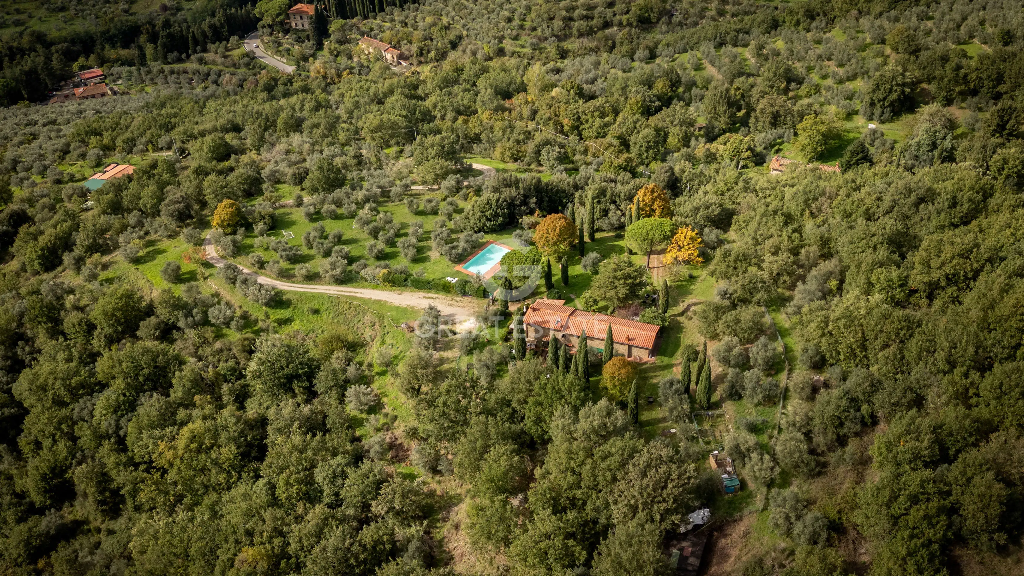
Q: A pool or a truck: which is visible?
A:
pool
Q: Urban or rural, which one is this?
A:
rural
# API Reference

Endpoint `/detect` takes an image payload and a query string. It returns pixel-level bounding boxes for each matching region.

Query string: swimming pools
[454,240,521,279]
